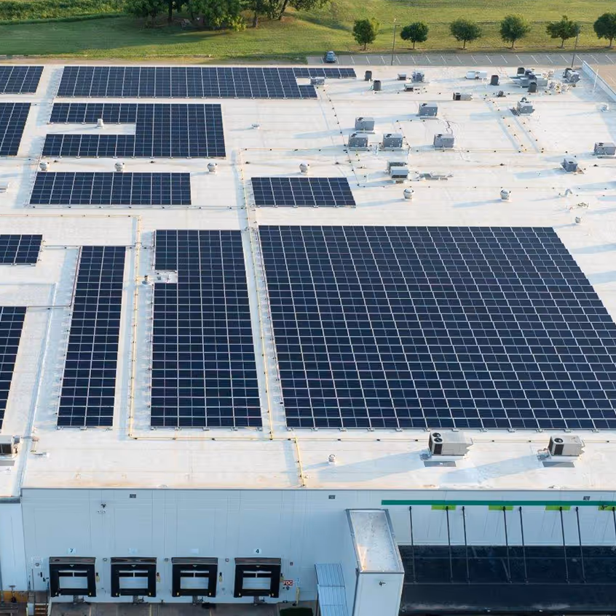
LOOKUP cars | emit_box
[322,48,335,61]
